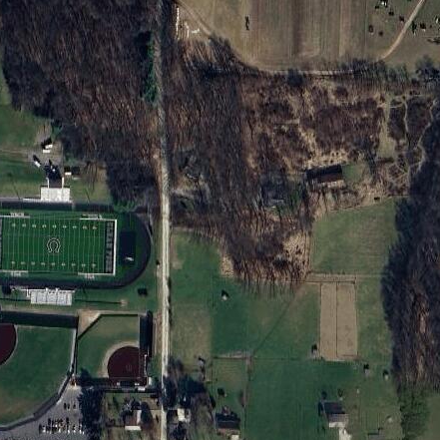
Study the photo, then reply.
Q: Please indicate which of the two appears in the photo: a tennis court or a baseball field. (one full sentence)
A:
This aerial view contains a baseball field.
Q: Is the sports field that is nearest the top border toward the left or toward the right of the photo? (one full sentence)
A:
The sports field that is nearest the top border is on the left side of the image.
